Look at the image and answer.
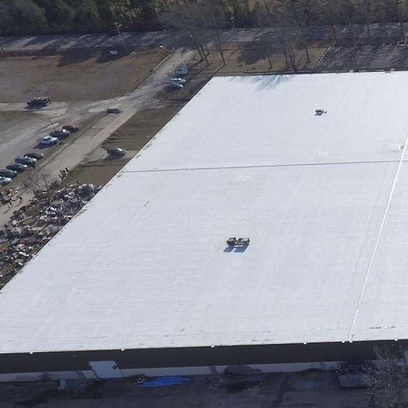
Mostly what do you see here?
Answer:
buildings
